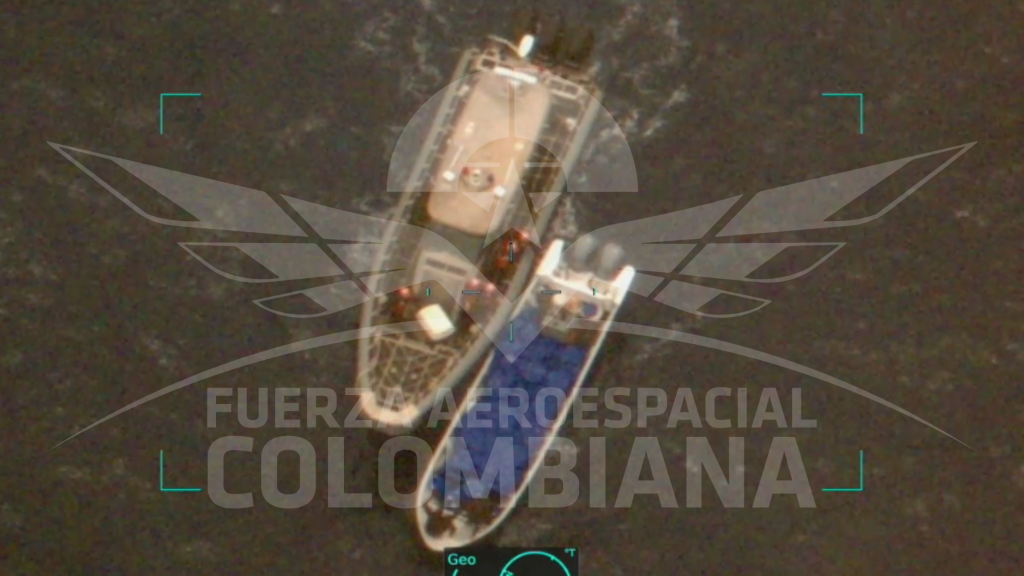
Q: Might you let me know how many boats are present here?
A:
two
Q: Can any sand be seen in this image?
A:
No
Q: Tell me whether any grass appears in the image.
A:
No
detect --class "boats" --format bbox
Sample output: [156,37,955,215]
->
[357,22,606,425]
[418,234,637,549]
